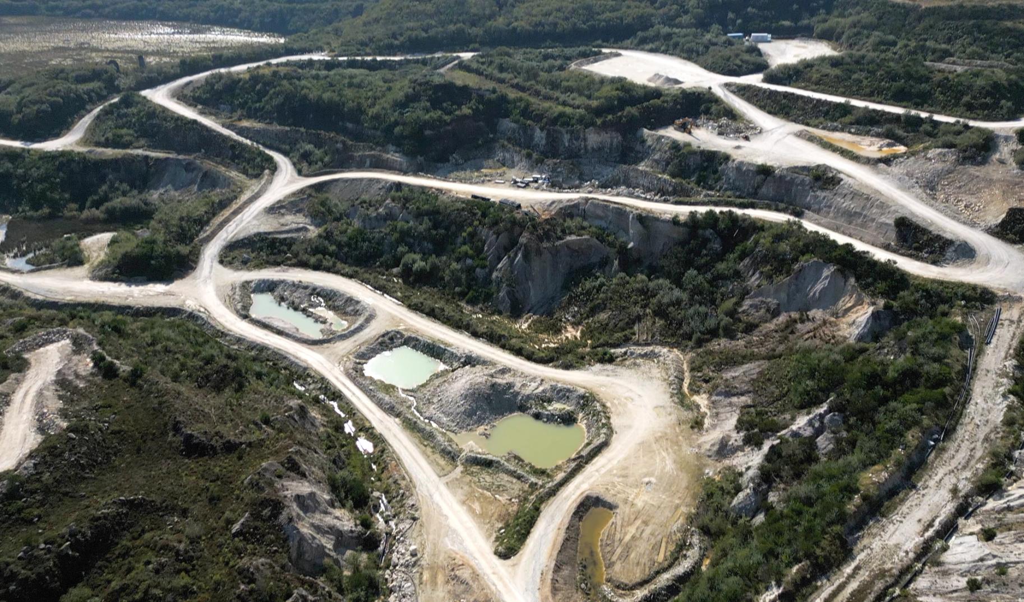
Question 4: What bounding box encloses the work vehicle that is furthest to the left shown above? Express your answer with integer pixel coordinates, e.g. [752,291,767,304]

[675,121,697,134]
